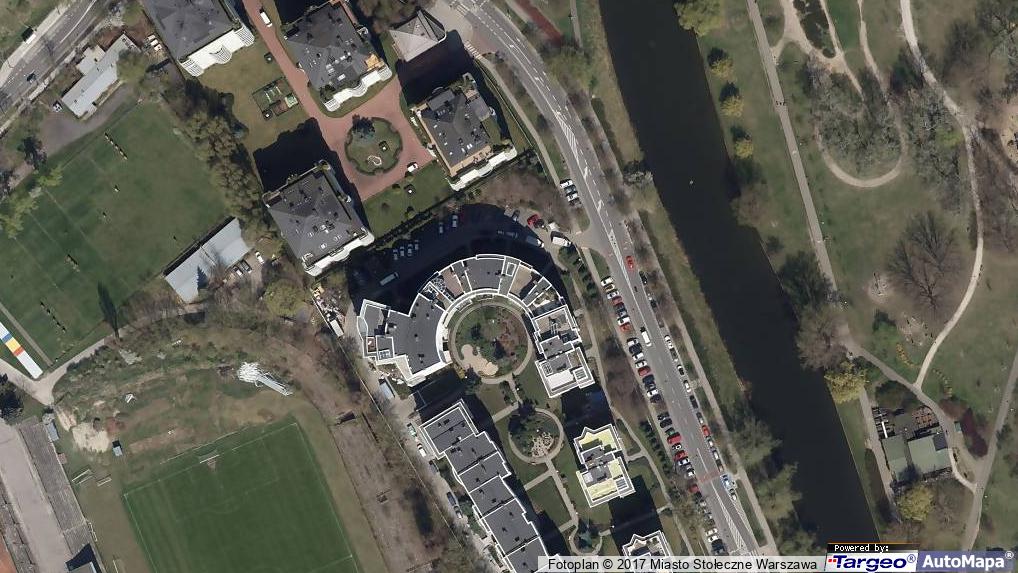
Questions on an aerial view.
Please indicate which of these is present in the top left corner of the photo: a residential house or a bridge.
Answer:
residential house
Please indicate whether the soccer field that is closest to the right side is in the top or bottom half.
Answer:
bottom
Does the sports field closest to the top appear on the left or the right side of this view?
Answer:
left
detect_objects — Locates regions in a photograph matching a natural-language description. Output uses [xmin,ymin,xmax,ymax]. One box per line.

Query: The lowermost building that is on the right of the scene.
[622,529,674,573]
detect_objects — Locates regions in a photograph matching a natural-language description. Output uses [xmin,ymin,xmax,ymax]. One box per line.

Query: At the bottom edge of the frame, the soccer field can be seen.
[117,416,367,573]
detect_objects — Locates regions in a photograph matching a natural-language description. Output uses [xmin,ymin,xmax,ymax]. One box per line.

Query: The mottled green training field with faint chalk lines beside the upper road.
[0,91,234,368]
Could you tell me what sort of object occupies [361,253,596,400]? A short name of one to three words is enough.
building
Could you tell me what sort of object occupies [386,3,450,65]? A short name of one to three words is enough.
house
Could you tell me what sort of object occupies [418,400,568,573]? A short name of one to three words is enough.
building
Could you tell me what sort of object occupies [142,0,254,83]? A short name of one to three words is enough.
house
